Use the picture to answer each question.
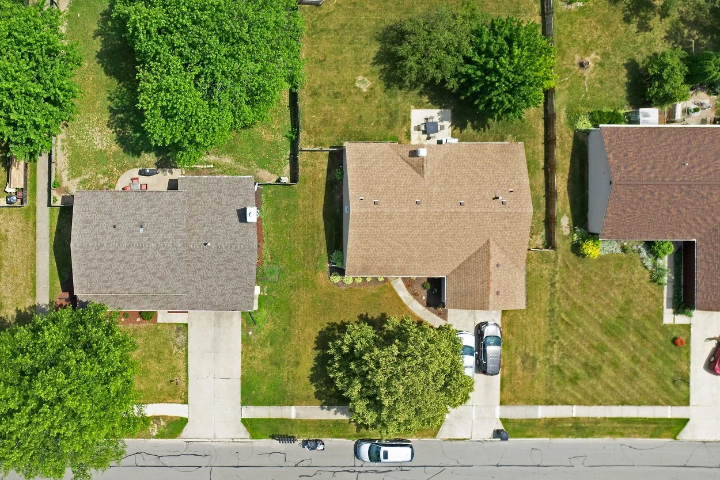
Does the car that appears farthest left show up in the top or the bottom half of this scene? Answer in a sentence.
The car that appears farthest left sits in the bottom half of the picture.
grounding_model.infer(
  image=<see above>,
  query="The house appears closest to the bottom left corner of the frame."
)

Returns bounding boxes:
[70,175,260,311]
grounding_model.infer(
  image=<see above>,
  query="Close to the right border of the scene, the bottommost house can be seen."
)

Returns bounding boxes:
[589,124,720,311]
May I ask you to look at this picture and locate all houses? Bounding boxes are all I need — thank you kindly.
[589,124,720,311]
[343,142,533,311]
[70,175,260,311]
